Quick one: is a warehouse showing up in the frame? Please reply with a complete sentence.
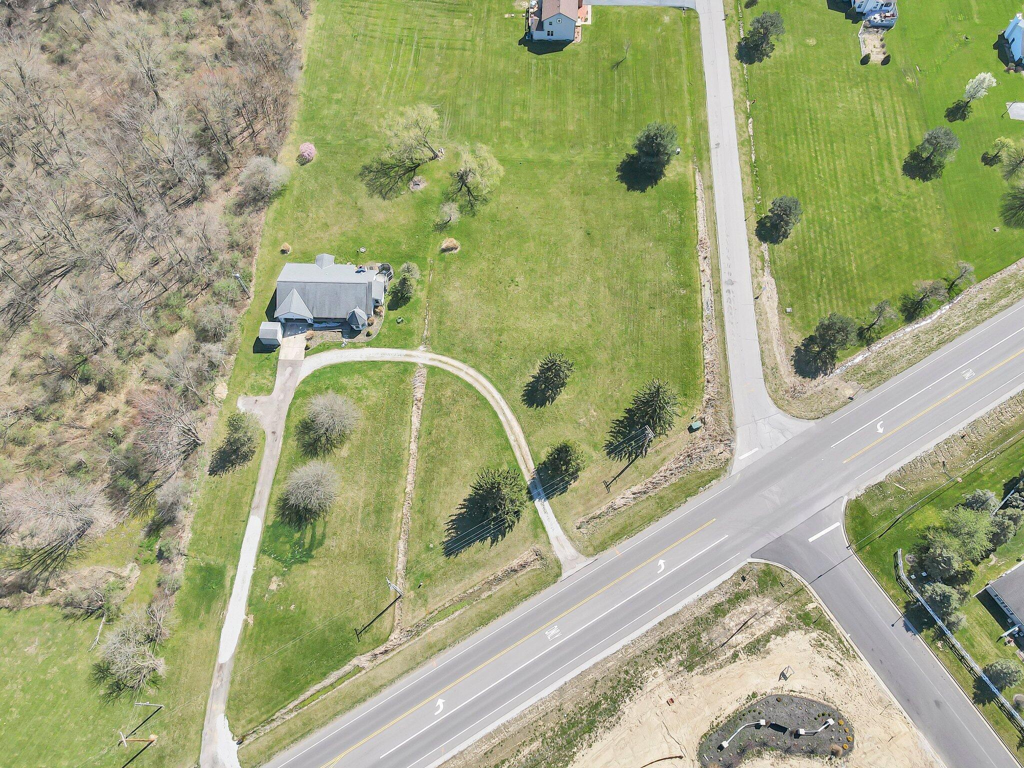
No, there isn't any warehouse down there.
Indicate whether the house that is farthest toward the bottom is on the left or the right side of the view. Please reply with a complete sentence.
The house that is farthest toward the bottom appears in the right half of the scene.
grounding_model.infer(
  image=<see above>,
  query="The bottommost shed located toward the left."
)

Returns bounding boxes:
[258,321,284,345]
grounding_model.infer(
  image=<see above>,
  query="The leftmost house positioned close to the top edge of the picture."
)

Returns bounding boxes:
[532,0,577,41]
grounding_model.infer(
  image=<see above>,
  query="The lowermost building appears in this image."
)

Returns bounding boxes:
[982,561,1024,639]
